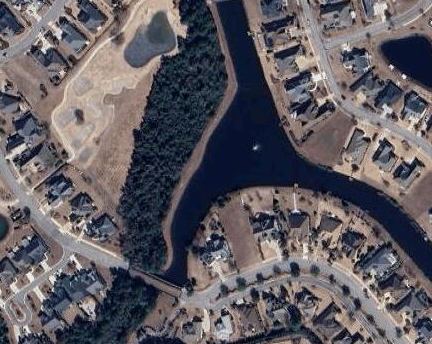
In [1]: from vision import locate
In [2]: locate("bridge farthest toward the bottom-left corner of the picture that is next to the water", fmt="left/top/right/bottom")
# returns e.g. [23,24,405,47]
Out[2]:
[125,260,184,297]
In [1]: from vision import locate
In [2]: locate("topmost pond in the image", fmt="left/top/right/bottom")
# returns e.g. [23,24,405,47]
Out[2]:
[382,34,432,87]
